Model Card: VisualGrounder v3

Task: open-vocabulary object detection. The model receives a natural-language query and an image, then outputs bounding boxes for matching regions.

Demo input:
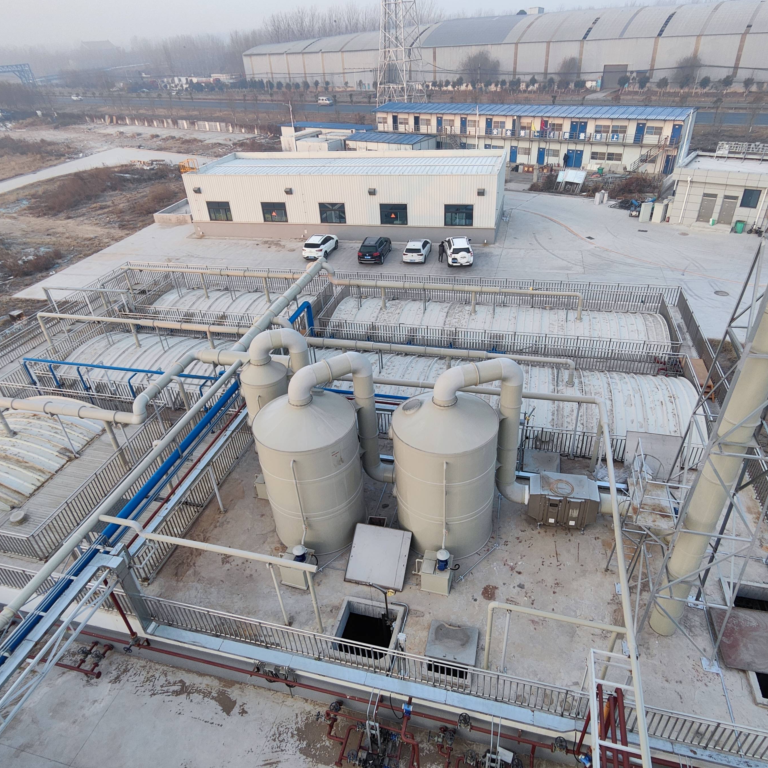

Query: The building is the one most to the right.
[671,138,768,232]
